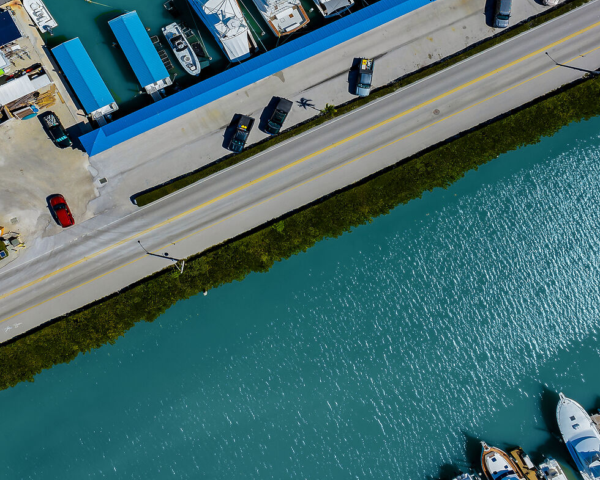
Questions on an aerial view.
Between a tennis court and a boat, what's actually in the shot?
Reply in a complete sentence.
The image shows a boat.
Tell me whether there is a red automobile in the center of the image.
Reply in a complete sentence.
No, I see no red automobile in the center of the image.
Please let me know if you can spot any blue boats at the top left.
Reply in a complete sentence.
Yes, a blue boat shows up at the top left.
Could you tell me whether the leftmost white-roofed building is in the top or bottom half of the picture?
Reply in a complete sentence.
The leftmost white-roofed building is in the top half of the image.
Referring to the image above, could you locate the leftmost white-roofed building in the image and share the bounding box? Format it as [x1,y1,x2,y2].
[0,76,34,107]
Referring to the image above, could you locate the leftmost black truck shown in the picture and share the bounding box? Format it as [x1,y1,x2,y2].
[44,112,72,148]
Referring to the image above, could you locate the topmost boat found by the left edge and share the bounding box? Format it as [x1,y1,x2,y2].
[23,0,60,36]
